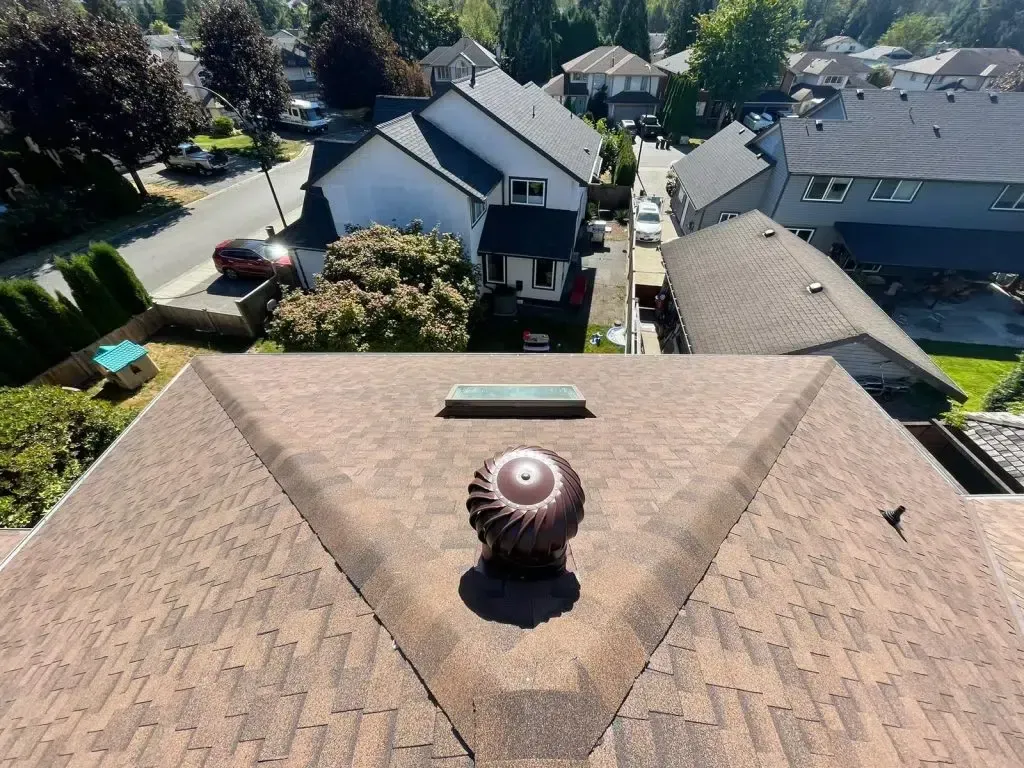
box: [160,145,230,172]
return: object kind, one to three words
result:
truck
